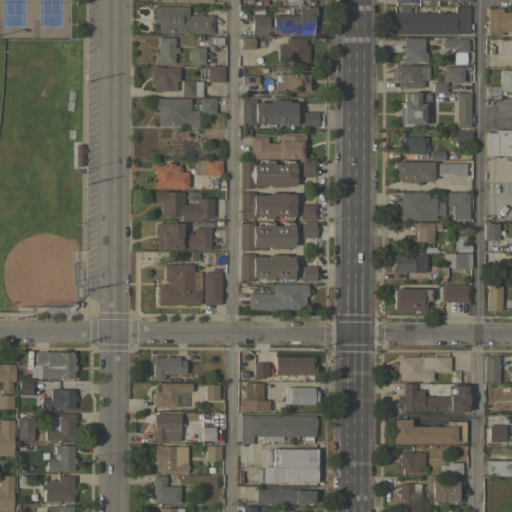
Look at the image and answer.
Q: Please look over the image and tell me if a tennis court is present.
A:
Yes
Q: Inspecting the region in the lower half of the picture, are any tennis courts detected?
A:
No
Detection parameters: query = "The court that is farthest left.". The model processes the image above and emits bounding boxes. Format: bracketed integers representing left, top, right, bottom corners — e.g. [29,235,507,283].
[2,0,28,28]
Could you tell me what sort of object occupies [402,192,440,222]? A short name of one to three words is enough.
house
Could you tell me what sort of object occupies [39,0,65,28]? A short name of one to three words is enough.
tennis court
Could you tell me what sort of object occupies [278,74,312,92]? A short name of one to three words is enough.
house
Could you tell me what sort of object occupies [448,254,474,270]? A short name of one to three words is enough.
building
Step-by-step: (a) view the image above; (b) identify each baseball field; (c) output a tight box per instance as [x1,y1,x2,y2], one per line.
[0,41,83,306]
